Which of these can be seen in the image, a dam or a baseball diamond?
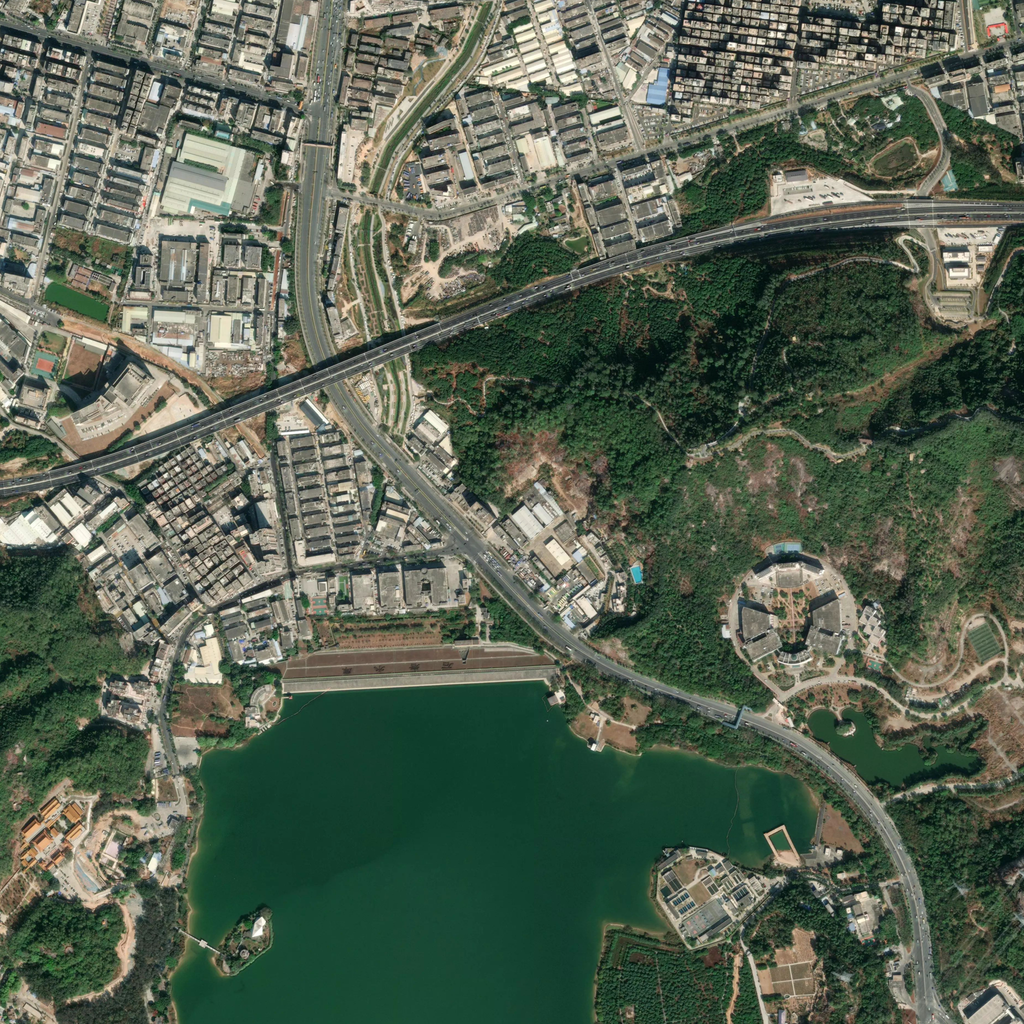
dam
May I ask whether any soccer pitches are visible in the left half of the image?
No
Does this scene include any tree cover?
Yes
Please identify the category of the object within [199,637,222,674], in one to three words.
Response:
shed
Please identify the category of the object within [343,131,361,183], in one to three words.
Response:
building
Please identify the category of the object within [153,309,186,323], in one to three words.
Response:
shed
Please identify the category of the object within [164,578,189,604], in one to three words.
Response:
building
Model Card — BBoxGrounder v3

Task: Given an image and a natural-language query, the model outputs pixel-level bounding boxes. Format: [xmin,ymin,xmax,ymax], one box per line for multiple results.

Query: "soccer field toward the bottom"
[968,623,1001,662]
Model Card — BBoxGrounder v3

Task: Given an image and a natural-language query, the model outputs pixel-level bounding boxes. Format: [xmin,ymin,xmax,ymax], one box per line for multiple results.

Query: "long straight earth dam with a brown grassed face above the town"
[283,645,556,693]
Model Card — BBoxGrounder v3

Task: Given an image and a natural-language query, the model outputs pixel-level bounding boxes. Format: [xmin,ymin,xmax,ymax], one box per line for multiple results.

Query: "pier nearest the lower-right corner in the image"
[761,824,801,865]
